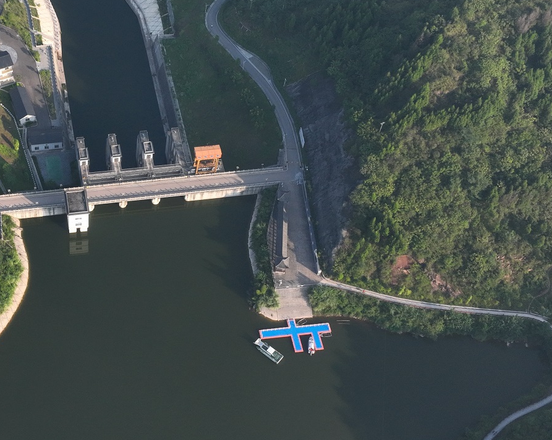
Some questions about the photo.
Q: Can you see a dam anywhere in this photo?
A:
Yes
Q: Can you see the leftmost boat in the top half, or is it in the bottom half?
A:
bottom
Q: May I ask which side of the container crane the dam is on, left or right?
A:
left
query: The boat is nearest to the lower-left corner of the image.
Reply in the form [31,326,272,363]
[250,333,284,365]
